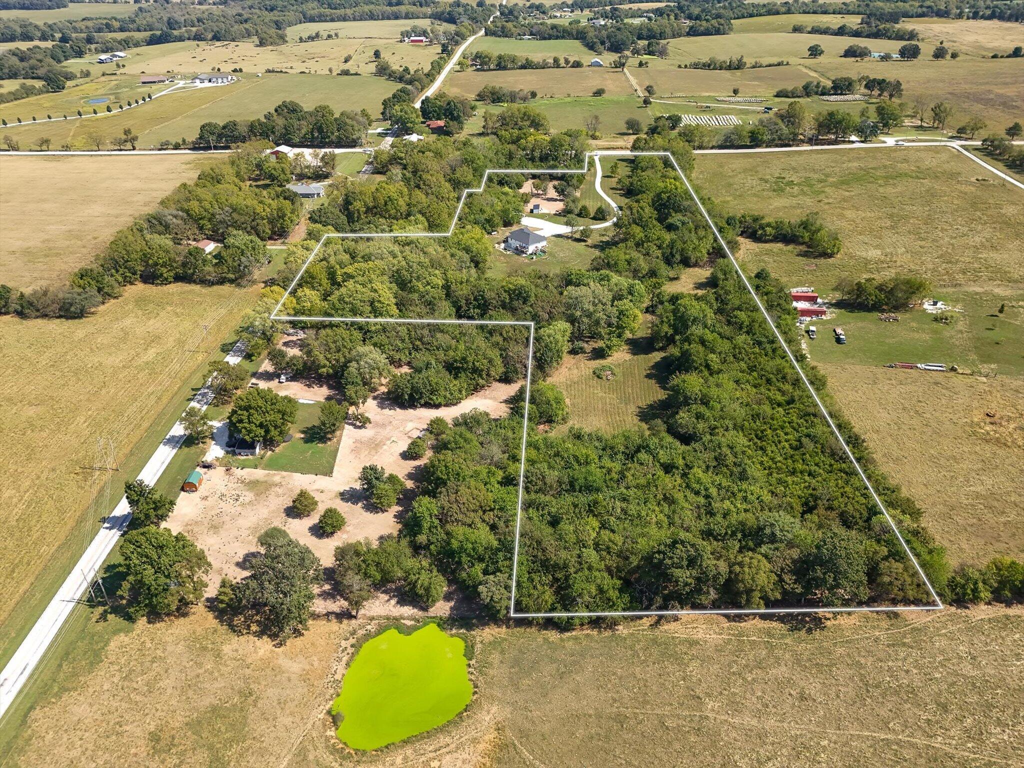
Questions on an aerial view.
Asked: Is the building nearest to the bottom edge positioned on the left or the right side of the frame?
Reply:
left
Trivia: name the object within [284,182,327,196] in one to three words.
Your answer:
house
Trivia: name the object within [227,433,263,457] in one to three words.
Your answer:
house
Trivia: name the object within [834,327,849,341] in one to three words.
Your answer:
vehicle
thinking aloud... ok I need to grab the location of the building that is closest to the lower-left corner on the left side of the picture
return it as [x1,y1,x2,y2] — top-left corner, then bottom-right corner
[180,467,204,493]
